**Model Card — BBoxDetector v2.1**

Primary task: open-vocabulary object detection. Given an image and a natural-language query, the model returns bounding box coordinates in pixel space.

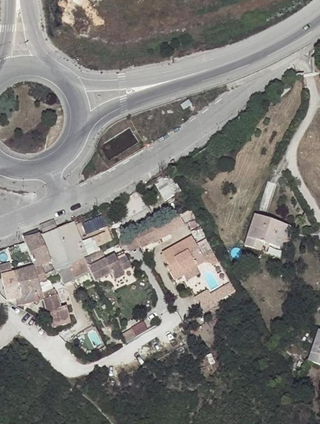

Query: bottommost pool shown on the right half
[204,270,220,292]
